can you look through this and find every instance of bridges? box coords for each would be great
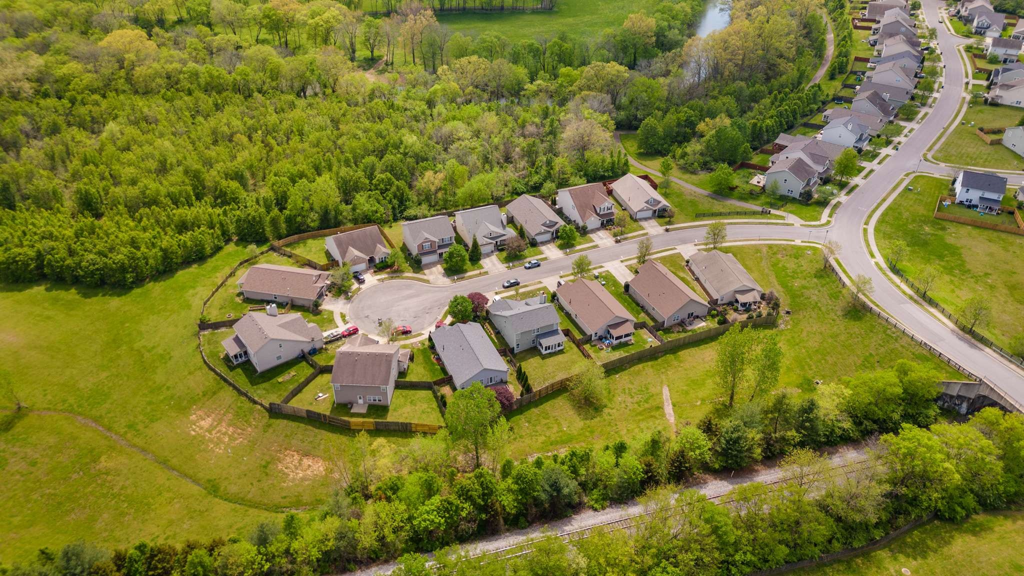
[935,362,1024,416]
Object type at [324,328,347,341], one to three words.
vehicle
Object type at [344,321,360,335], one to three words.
car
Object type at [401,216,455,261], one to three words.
house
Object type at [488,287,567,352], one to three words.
house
